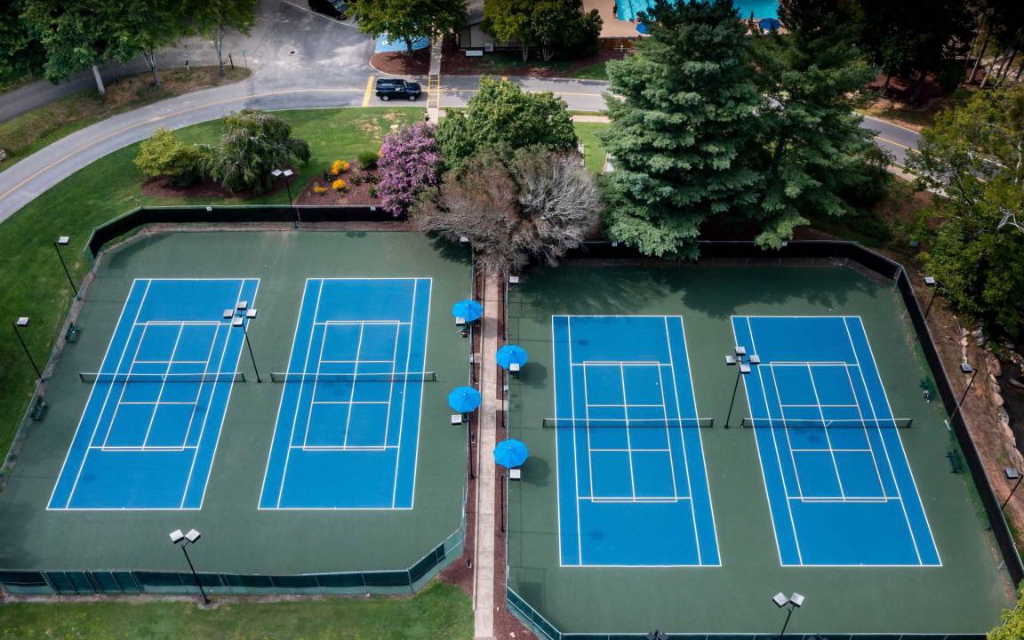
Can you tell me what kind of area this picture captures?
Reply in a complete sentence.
What you see here is a sports ground.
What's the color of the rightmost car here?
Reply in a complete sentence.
The rightmost car is black.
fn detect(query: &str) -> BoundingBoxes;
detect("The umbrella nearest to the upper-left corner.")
[452,299,480,328]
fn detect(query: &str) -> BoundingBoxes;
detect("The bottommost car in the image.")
[374,76,422,100]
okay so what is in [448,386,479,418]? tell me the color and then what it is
blue umbrella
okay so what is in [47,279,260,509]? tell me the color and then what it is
blue tennis court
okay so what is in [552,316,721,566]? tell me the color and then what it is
blue tennis court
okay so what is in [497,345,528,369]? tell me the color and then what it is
blue umbrella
